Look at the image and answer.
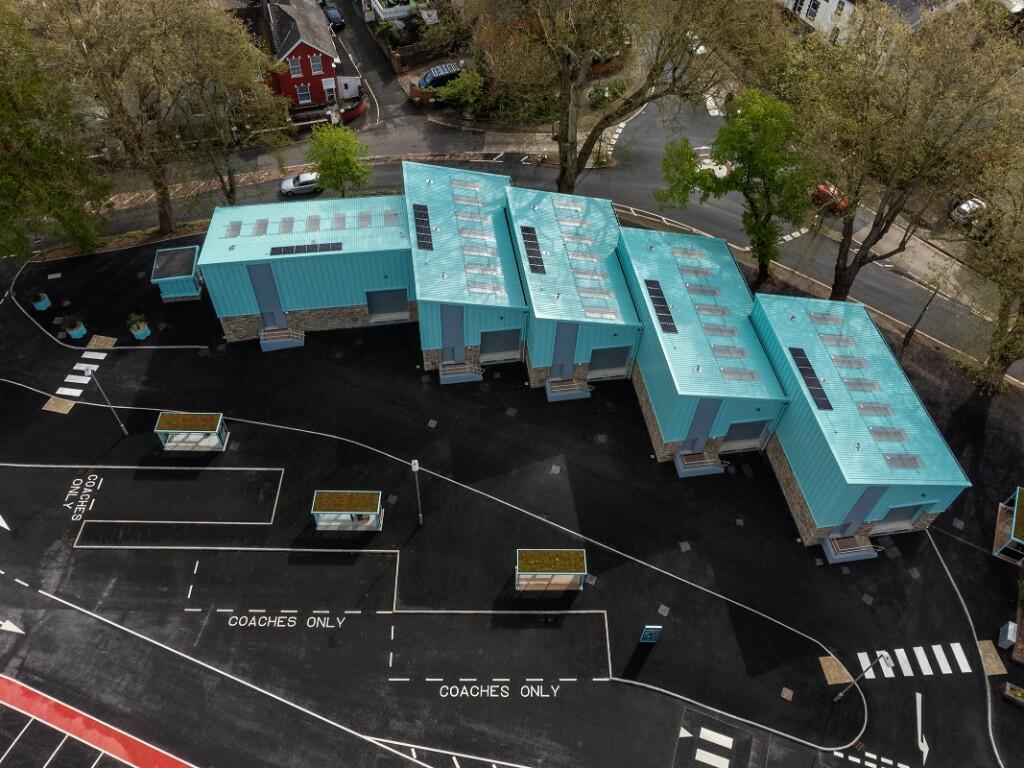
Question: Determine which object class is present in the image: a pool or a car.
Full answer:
Visible in the photo is a car.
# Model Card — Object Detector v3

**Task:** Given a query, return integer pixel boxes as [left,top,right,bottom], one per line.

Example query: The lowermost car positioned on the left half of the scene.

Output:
[278,171,325,198]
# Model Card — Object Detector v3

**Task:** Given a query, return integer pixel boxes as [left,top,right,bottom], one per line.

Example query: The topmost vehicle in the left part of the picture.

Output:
[319,0,348,24]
